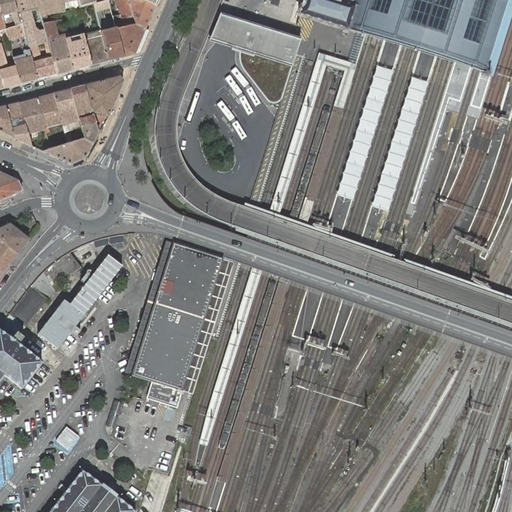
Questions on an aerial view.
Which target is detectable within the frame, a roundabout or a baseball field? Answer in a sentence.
Visible in the photo is a roundabout.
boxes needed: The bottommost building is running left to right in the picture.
[48,472,136,512]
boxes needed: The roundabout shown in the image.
[54,164,124,234]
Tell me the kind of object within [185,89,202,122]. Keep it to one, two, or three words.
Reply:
vehicle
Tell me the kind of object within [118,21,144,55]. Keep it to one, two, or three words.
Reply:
house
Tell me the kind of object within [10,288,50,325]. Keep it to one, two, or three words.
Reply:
shed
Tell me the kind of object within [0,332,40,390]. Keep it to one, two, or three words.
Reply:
building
